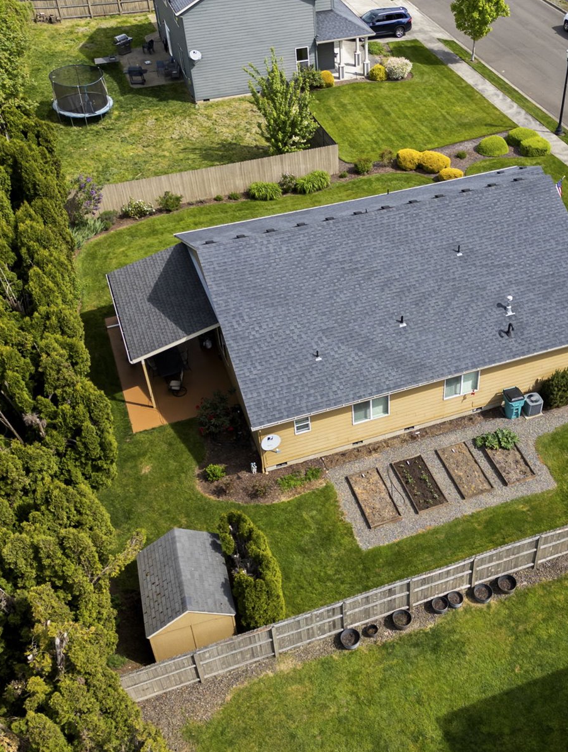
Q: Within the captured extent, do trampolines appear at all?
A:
Yes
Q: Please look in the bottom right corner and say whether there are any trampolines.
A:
No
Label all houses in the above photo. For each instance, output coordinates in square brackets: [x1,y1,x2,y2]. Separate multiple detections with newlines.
[151,0,377,101]
[106,167,568,477]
